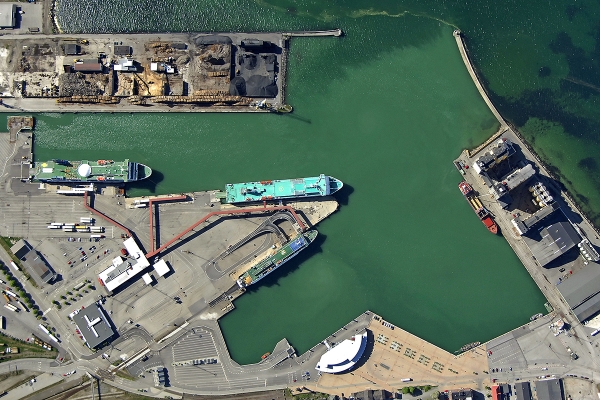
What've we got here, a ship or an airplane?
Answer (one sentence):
This aerial view contains a ship.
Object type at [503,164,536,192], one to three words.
building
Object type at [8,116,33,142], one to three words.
pier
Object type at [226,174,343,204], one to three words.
ship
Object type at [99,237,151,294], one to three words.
building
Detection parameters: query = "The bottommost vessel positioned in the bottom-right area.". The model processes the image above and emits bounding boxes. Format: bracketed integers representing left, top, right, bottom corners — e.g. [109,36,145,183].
[460,339,482,353]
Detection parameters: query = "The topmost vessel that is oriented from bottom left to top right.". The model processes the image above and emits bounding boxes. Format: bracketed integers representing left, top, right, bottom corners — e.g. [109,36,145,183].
[238,229,319,289]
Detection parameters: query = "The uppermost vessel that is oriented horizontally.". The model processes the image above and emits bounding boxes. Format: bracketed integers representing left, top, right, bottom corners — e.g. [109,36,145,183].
[35,159,152,183]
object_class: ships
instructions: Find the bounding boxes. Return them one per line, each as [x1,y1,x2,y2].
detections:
[460,339,482,353]
[455,180,499,234]
[226,174,343,204]
[238,229,319,289]
[35,159,152,183]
